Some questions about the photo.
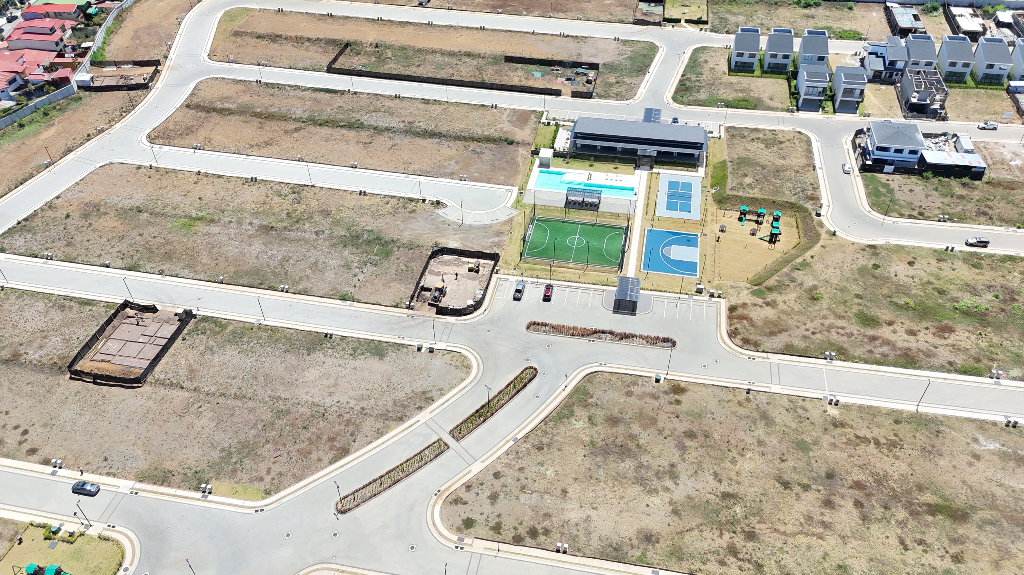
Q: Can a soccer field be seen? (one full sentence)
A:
Yes, I can see a soccer field in this picture.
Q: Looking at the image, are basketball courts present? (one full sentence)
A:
Yes, the frame does contain a basketball court.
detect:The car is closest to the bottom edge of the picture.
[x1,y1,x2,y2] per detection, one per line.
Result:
[70,480,98,499]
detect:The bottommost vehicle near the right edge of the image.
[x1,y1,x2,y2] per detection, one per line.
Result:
[966,237,992,249]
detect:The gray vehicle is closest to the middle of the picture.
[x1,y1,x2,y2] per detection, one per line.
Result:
[512,282,524,300]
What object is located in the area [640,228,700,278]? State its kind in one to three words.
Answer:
basketball court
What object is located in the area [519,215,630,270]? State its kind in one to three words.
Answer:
soccer field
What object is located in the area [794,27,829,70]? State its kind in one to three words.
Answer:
house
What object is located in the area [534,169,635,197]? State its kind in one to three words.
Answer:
swimming pool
